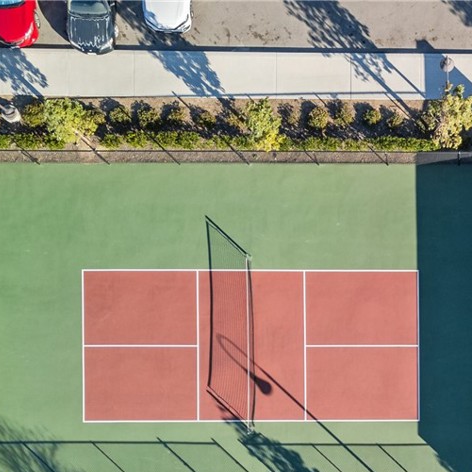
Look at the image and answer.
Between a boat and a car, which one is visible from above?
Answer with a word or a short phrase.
car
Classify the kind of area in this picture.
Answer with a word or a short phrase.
sports ground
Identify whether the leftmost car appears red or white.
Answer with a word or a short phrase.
red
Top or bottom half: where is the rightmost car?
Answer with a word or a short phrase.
top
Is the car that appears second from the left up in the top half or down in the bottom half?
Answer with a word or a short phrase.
top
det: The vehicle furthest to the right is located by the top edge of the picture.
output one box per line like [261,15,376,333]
[143,0,196,31]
